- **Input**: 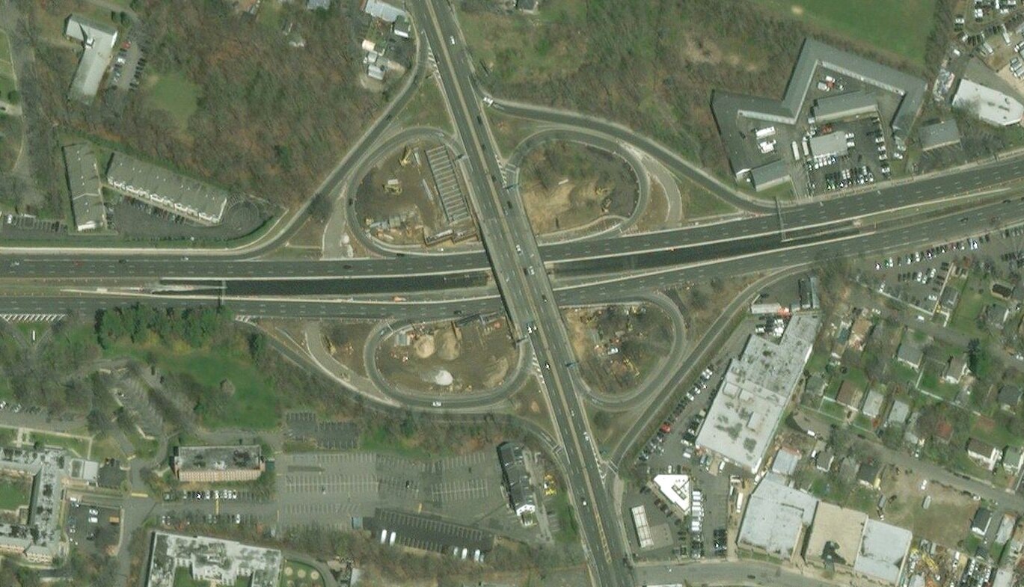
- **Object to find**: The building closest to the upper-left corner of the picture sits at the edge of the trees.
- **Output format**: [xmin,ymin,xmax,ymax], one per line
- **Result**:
[66,13,120,110]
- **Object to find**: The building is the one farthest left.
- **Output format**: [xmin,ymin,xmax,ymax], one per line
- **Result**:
[0,448,70,555]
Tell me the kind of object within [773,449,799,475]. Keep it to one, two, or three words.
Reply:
shed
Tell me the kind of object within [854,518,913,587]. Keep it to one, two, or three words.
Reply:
building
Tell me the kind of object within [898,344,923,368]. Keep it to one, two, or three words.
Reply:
house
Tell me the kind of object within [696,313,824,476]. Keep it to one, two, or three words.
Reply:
warehouse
